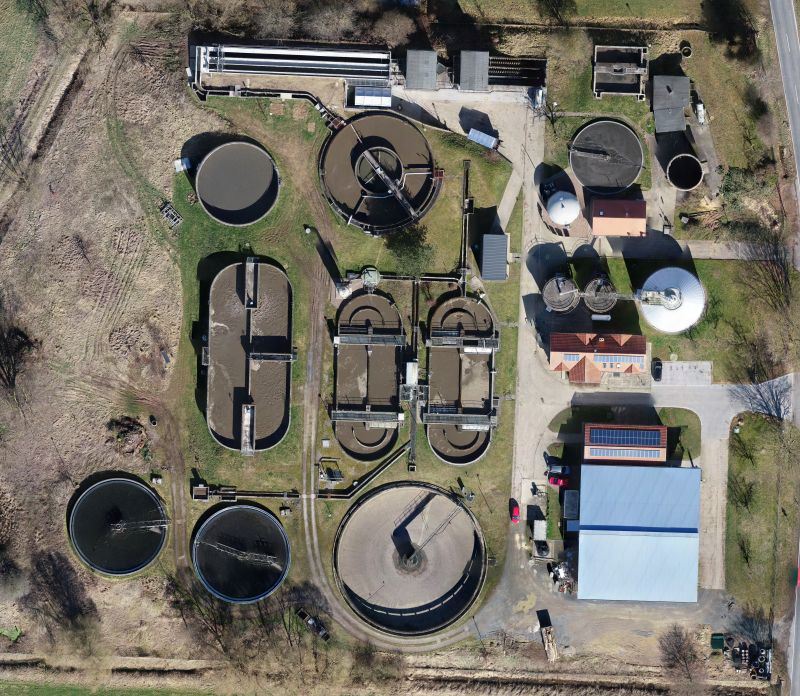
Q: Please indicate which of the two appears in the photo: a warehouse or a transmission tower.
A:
warehouse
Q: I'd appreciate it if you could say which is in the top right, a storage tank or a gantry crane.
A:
storage tank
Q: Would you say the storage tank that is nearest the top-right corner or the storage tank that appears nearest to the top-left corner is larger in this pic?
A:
the storage tank that appears nearest to the top-left corner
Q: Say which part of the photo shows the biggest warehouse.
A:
bottom right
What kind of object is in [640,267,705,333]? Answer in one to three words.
storage tank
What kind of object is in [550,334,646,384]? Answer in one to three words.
house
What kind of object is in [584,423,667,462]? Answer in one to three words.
house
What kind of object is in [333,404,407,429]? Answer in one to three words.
bridge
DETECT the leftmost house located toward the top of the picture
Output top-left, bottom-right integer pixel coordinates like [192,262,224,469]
[406,50,436,89]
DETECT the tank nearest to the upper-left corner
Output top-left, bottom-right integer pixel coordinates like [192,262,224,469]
[195,141,280,226]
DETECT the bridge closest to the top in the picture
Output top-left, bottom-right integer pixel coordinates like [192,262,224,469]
[245,257,258,309]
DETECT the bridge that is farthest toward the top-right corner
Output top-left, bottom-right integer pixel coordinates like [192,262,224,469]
[426,334,498,355]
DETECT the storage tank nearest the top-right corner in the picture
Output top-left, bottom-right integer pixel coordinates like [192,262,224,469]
[667,154,709,191]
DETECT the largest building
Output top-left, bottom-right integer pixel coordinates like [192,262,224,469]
[566,464,702,602]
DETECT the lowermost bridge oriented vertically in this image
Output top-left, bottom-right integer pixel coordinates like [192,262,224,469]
[241,404,255,456]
